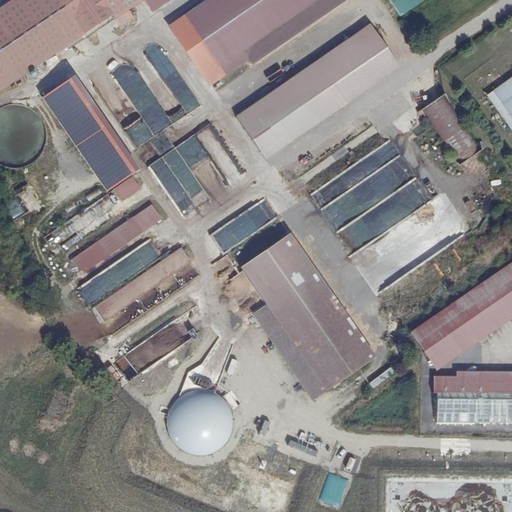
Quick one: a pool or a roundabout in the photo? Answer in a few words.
pool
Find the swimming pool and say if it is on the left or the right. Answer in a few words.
right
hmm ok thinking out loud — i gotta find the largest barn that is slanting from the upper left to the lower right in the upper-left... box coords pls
[44,74,140,190]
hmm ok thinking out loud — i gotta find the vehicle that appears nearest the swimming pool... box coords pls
[346,456,358,474]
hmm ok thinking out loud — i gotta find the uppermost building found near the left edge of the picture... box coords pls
[0,0,140,92]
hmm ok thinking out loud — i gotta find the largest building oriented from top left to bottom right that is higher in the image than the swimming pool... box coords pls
[240,233,374,391]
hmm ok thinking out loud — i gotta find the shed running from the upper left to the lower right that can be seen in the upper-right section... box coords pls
[422,94,482,163]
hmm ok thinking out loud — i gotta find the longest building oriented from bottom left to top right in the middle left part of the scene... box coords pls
[70,204,162,274]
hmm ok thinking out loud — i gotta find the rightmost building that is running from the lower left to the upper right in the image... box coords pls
[412,263,512,371]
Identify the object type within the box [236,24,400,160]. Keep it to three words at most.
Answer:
barn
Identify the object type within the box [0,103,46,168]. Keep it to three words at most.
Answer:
storage tank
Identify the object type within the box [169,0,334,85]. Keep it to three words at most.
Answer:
barn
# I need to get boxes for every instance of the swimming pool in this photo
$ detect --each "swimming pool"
[318,470,352,510]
